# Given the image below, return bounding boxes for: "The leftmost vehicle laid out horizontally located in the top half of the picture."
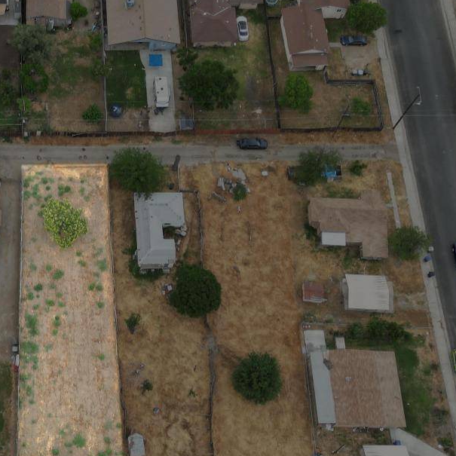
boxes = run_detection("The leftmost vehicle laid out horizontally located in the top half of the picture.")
[236,136,267,150]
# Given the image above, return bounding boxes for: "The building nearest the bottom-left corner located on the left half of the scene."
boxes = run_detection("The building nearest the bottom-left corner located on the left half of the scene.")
[134,191,184,271]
